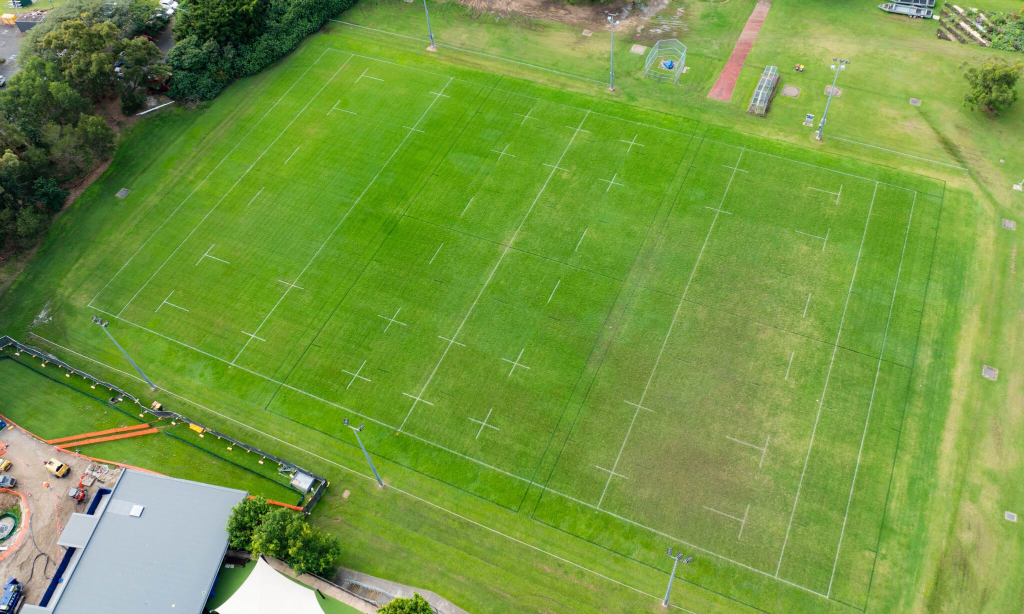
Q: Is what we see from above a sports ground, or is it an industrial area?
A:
sports ground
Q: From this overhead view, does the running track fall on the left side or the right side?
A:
right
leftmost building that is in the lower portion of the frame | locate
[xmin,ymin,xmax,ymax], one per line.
[19,468,249,614]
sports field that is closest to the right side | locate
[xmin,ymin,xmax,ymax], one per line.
[532,124,946,614]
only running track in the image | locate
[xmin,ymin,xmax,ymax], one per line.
[708,1,772,101]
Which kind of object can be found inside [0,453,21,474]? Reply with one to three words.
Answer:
work vehicle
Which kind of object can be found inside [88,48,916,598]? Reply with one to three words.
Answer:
sports field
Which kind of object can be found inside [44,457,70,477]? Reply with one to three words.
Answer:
vehicle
